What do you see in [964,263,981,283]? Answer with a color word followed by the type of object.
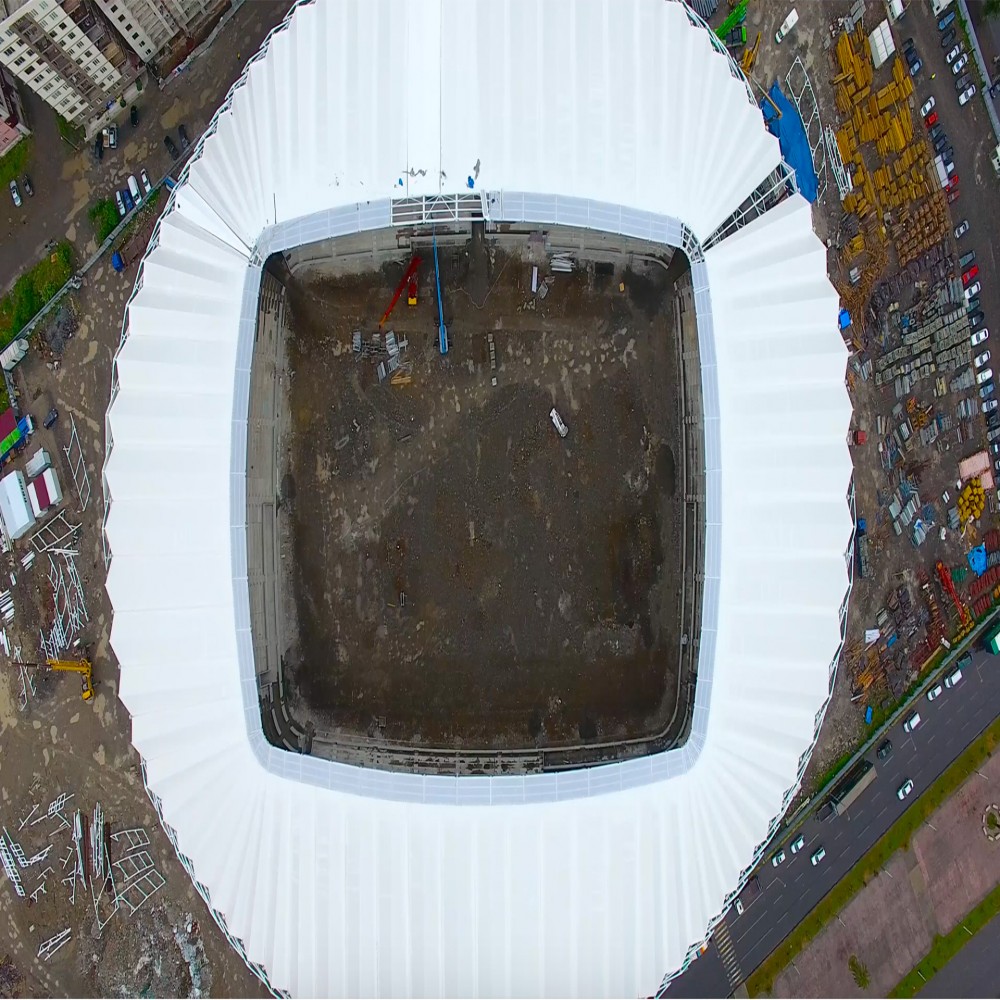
red car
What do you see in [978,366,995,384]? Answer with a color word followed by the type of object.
white car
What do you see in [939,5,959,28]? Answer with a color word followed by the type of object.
blue car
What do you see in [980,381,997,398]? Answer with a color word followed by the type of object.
blue car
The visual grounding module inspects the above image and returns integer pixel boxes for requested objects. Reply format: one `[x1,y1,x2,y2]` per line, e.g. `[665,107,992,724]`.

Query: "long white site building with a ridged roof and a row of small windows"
[0,470,36,539]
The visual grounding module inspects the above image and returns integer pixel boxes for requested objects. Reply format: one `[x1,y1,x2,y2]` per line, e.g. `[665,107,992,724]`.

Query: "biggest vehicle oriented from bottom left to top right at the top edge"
[777,1,803,42]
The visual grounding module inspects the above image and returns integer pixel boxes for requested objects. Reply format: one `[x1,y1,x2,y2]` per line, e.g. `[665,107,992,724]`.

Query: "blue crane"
[431,224,455,354]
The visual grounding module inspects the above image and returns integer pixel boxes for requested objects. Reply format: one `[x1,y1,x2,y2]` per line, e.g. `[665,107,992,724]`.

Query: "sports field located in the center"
[269,249,691,751]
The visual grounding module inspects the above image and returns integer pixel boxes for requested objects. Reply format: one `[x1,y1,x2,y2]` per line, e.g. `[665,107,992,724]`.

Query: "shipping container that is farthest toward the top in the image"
[870,19,896,71]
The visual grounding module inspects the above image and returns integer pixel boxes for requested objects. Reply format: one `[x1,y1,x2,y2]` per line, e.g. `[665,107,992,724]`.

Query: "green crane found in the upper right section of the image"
[716,0,753,57]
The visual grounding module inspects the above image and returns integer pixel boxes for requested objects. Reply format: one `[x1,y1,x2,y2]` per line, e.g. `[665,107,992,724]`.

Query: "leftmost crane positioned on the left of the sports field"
[11,658,100,708]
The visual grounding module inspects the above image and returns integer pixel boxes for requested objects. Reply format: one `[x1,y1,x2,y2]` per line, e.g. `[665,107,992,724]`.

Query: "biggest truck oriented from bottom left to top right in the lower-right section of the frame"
[817,754,877,817]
